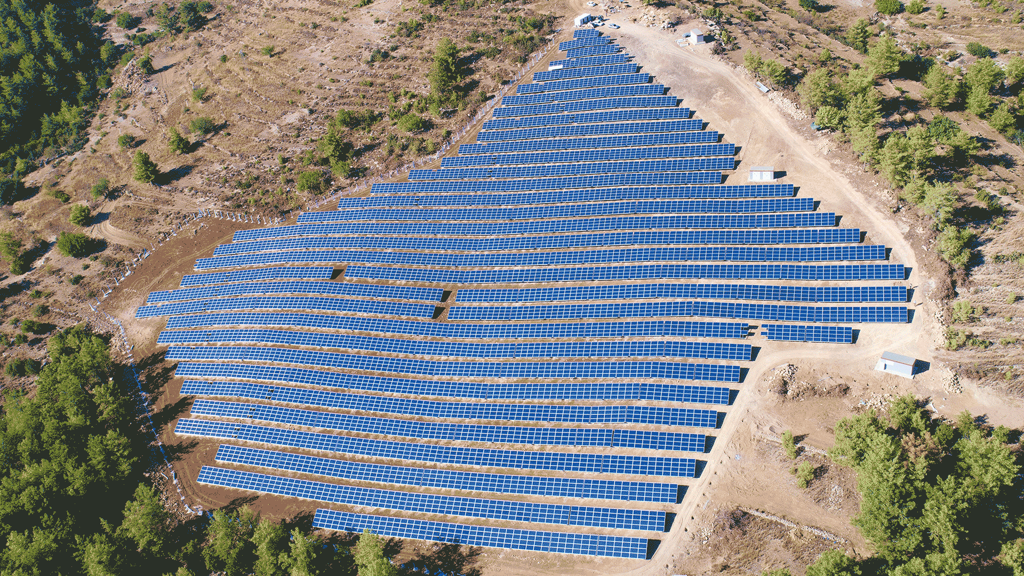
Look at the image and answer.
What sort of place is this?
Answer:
solar farm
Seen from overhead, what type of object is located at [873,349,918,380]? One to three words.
shed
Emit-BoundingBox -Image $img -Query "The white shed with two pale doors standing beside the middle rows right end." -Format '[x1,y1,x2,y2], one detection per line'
[747,165,777,182]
